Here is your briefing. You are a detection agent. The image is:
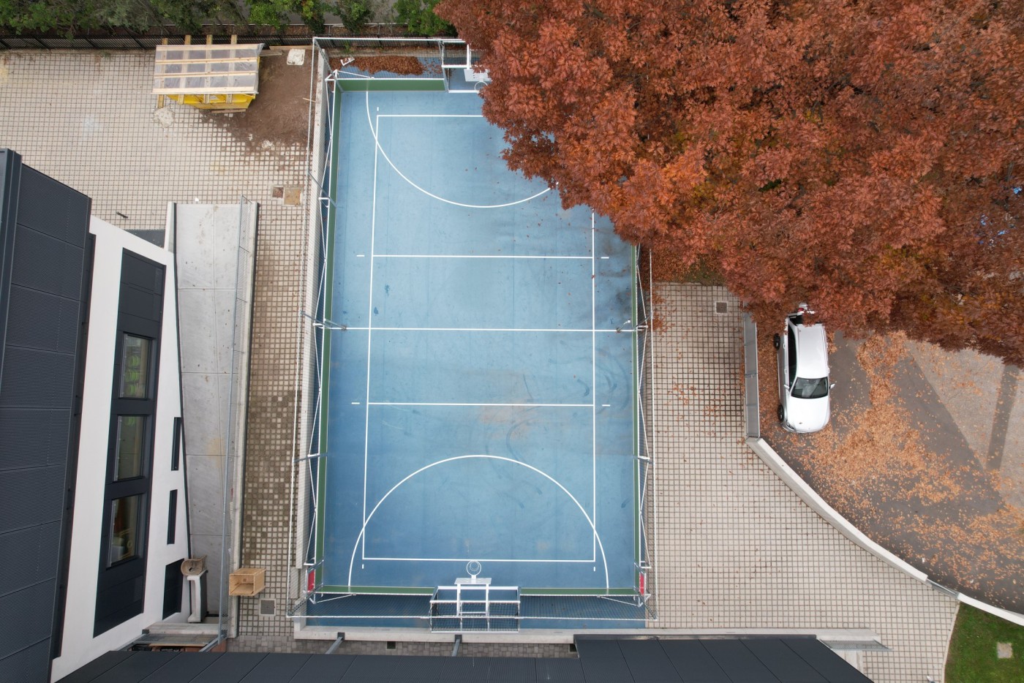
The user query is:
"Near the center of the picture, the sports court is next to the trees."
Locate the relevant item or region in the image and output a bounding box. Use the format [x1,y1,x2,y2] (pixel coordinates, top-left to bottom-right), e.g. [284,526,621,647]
[307,56,646,628]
